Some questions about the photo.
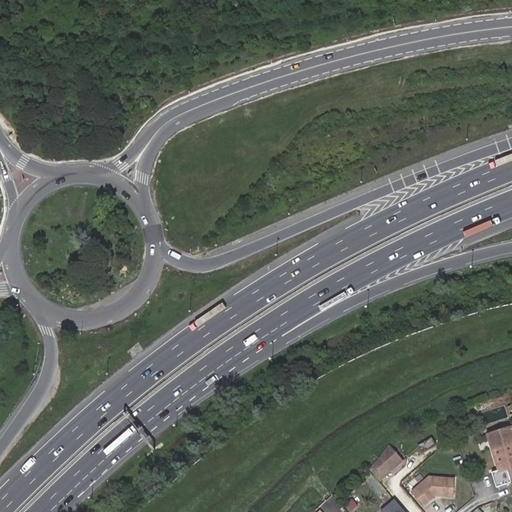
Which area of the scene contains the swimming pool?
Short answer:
bottom right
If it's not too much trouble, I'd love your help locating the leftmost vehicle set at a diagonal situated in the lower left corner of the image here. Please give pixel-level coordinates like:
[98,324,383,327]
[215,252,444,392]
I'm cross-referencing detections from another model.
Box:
[19,456,37,474]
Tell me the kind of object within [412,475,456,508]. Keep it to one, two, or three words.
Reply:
house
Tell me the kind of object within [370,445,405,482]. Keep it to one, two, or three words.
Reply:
house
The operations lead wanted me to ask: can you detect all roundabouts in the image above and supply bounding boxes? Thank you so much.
[0,164,196,332]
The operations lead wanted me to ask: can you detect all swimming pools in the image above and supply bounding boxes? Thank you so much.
[480,404,510,426]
